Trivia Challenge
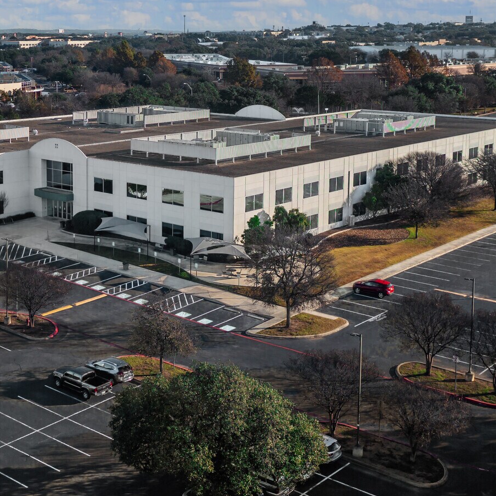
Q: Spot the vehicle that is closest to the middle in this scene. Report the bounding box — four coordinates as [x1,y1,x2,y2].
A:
[352,277,398,298]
